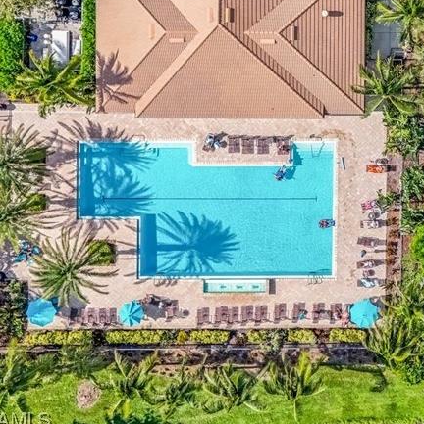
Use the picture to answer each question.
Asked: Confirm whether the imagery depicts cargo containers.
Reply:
No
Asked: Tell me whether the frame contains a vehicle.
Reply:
No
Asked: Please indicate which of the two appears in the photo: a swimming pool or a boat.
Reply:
swimming pool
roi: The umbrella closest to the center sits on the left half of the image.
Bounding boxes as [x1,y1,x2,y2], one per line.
[118,297,145,324]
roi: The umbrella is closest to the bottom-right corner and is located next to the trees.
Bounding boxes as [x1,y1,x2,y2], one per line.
[351,298,378,325]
